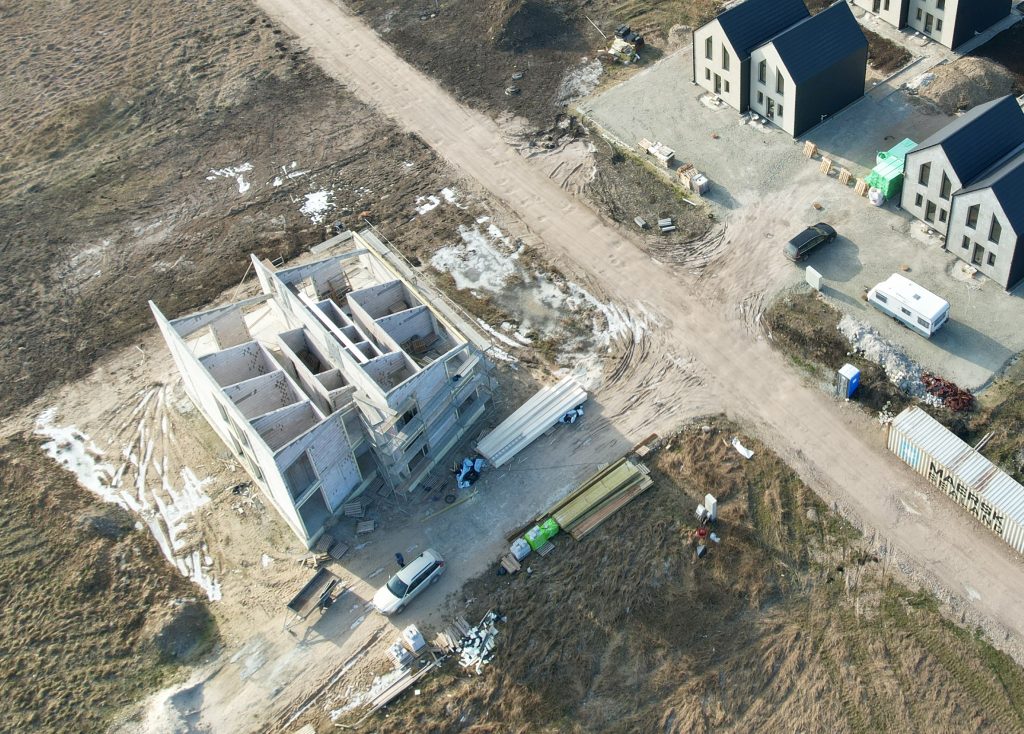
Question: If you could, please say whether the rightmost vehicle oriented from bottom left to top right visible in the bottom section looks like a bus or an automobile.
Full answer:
What you see as the rightmost vehicle oriented from bottom left to top right visible in the bottom section is an automobile.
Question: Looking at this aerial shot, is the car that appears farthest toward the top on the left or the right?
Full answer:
The car that appears farthest toward the top is on the right side of the image.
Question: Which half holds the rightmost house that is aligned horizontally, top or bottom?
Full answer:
The top half of the photo is where the rightmost house that is aligned horizontally is.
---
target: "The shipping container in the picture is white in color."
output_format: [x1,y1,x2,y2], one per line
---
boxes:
[887,406,1024,556]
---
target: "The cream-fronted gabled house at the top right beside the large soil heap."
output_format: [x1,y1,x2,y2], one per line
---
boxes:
[902,0,1016,52]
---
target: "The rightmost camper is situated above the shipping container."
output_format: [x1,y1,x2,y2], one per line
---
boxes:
[865,266,951,335]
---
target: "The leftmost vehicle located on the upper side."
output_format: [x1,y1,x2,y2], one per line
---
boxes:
[780,218,844,264]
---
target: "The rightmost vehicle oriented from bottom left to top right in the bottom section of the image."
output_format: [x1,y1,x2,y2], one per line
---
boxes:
[369,547,447,614]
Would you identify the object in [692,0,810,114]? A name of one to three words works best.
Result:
house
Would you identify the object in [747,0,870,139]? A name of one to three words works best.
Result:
house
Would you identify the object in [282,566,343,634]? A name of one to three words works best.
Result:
trailer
